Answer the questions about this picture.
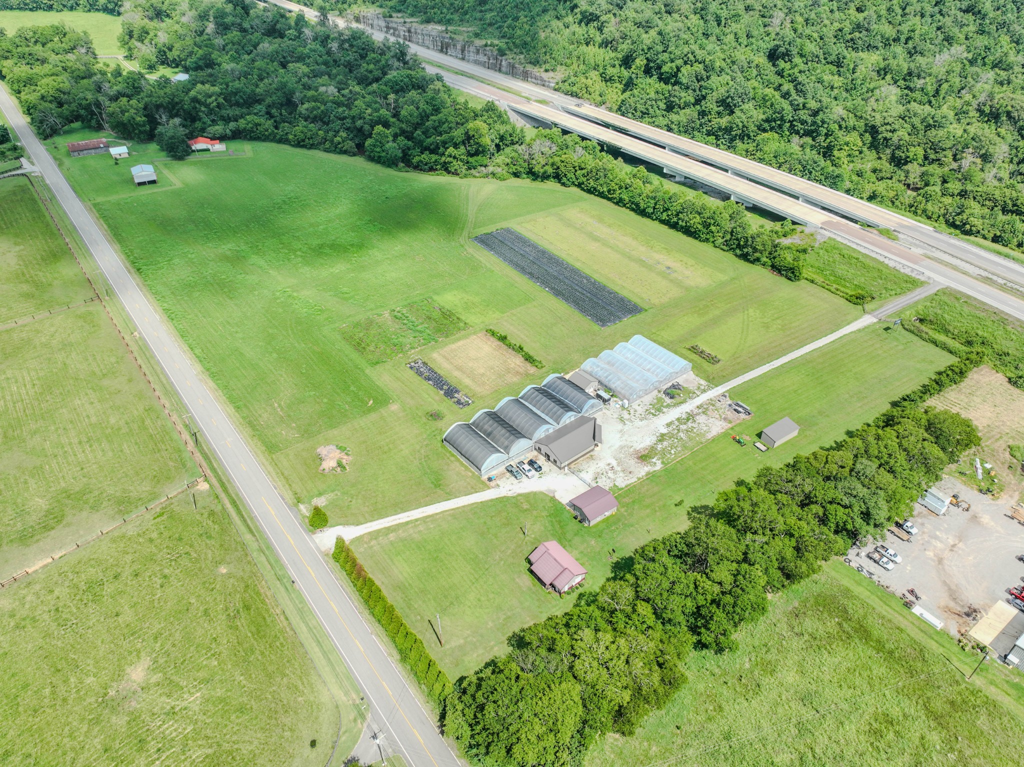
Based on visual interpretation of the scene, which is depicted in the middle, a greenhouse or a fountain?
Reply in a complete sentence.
You can see a greenhouse in the middle.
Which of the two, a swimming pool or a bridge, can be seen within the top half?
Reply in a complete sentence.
What appears within the top half is a bridge.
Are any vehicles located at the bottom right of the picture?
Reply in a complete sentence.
Yes, the scene does show a vehicle at the bottom right of the picture.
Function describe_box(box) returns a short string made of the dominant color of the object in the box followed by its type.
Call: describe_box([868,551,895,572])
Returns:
white truck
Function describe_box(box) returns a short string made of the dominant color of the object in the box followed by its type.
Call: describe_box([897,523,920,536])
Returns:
white vehicle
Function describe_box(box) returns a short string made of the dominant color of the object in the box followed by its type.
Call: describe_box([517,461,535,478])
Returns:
white vehicle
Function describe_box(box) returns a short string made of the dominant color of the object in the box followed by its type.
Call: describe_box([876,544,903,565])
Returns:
white truck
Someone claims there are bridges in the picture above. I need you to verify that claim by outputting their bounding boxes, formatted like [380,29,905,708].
[535,94,873,217]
